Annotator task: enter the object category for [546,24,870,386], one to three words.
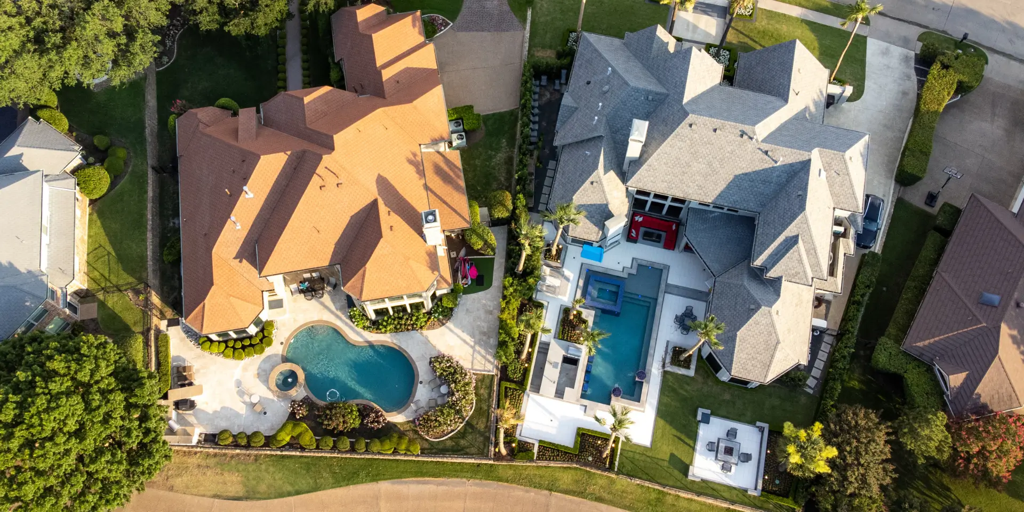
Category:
house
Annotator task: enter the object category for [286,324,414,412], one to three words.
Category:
swimming pool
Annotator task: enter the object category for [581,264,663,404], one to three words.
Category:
swimming pool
